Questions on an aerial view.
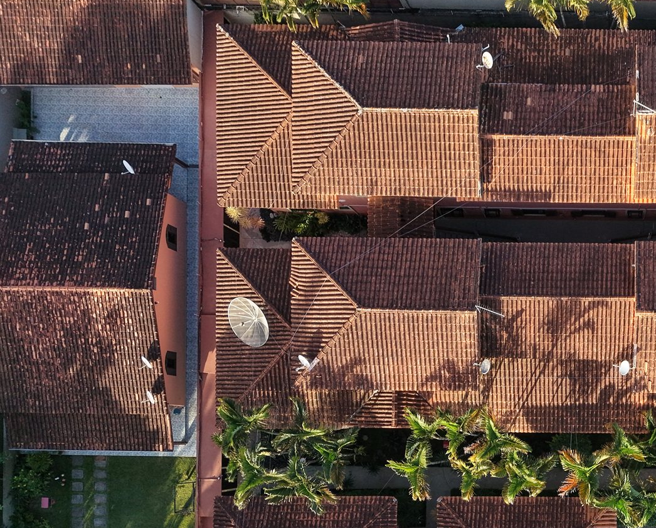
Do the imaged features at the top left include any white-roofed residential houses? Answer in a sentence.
No, there is no white-roofed residential house at the top left.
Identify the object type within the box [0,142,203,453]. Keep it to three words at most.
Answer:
house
